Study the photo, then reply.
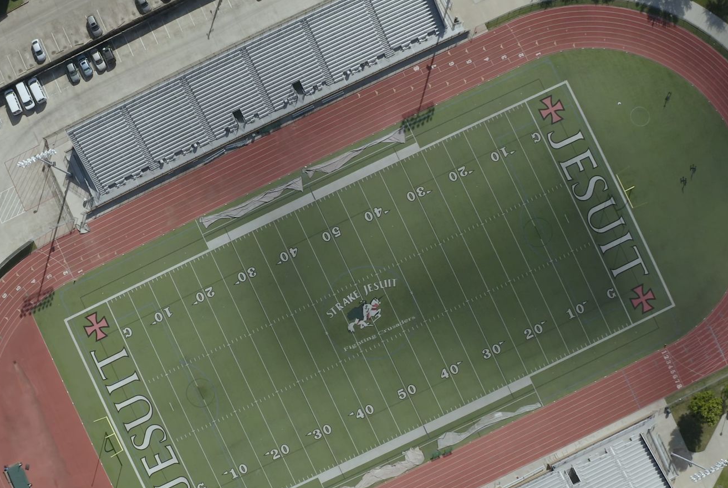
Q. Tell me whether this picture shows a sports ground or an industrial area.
sports ground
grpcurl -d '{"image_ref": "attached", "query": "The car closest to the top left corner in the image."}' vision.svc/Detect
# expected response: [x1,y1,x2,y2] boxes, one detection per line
[30,37,46,63]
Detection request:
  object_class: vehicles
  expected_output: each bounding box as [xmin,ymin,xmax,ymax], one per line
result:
[5,87,25,118]
[15,80,36,111]
[29,76,49,106]
[77,54,94,80]
[30,37,46,63]
[64,60,81,86]
[86,12,102,38]
[100,43,117,69]
[137,0,151,15]
[91,48,107,73]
